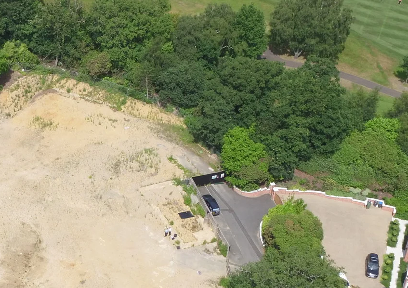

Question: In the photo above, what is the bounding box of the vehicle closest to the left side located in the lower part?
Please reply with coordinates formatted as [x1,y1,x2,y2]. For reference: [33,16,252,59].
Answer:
[201,193,222,215]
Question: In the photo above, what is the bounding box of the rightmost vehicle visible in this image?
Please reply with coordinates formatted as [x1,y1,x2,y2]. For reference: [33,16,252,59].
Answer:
[364,252,380,277]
